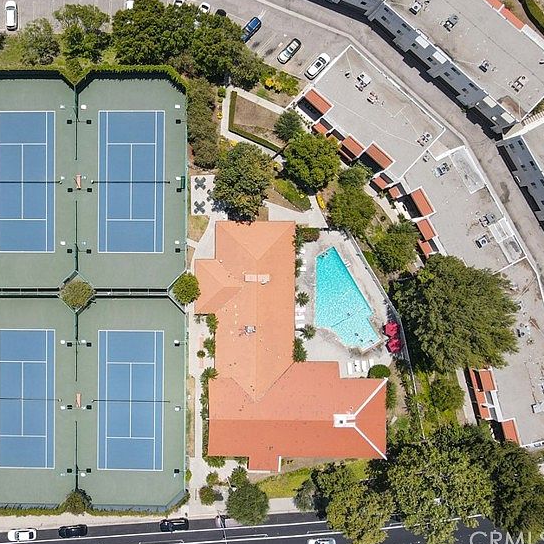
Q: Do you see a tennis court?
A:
Yes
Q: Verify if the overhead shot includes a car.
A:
Yes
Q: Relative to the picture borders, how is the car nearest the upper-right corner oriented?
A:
at an angle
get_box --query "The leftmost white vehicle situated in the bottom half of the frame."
[8,528,36,542]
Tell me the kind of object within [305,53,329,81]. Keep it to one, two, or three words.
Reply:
car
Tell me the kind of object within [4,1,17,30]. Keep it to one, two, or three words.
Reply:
vehicle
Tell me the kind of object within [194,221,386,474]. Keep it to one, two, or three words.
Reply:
building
